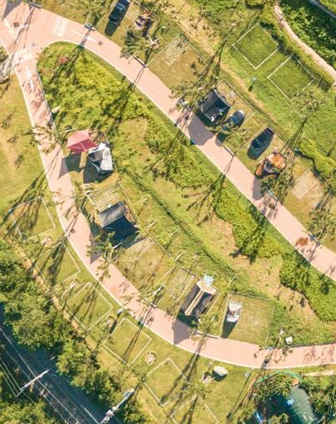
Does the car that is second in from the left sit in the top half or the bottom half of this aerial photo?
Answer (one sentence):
It is in the top half that the car that is second in from the left appears.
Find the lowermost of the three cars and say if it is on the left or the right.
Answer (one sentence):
The lowermost of the three cars is on the right side of the image.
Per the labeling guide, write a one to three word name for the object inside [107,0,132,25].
car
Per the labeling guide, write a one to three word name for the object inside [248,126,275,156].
car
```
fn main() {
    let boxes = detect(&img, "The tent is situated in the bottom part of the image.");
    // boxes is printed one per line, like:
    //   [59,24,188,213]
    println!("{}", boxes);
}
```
[181,280,219,317]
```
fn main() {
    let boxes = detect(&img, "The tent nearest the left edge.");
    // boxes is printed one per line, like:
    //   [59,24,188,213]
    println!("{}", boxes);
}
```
[88,144,113,174]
